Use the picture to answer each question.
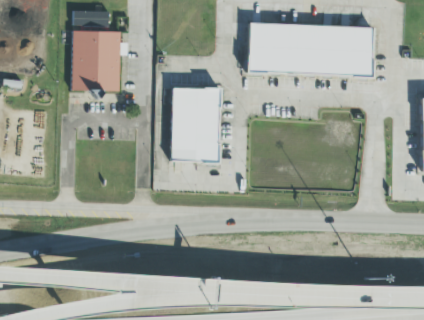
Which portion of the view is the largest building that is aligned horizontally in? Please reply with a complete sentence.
Look in the top right portion of the view to spot the largest building that is aligned horizontally.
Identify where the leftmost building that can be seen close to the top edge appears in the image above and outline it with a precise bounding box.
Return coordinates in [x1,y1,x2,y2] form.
[70,12,129,98]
